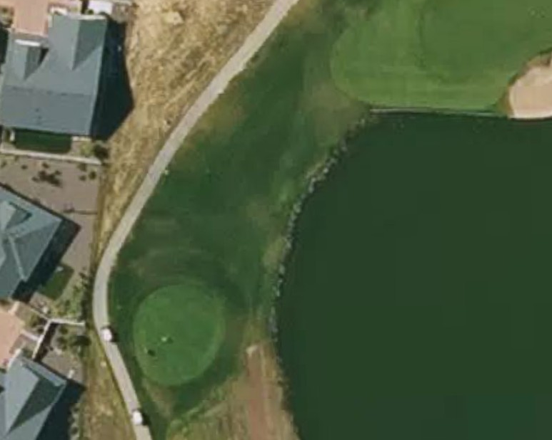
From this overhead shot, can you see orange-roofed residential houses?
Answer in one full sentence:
No, no orange-roofed residential house is visible in the scene.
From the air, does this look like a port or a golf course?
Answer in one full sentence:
The picture captures a golf course.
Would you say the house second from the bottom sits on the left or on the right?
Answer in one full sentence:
You can find the house second from the bottom on the left side of the picture.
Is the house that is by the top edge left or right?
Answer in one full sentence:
You can find the house that is by the top edge on the left side of the picture.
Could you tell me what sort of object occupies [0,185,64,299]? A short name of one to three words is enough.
house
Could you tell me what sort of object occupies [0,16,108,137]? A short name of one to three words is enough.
house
